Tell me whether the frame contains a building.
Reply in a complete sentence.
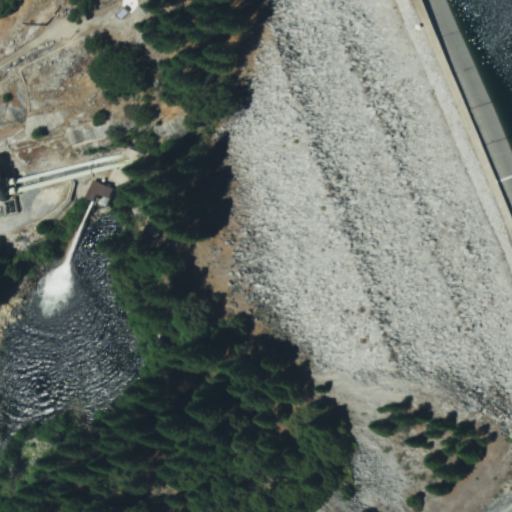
Yes, the image includes a building.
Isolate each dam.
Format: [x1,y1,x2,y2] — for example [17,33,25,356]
[229,0,512,414]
